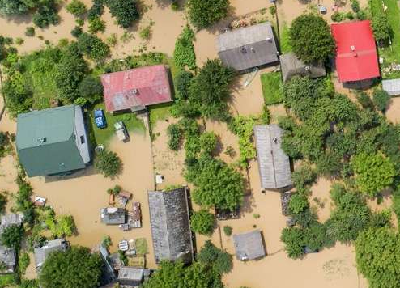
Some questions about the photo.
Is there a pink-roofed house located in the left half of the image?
Yes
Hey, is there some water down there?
Yes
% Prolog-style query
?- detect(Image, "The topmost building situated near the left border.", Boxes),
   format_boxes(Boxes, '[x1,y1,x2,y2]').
[11,104,90,177]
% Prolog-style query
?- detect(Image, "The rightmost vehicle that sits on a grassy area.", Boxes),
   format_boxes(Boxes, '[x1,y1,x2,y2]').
[115,121,129,140]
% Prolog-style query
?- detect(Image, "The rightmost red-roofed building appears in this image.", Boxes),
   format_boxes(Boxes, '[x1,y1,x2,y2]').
[332,19,379,87]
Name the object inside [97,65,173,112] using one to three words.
house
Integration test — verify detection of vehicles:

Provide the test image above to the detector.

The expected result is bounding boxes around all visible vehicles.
[115,121,129,140]
[94,109,106,128]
